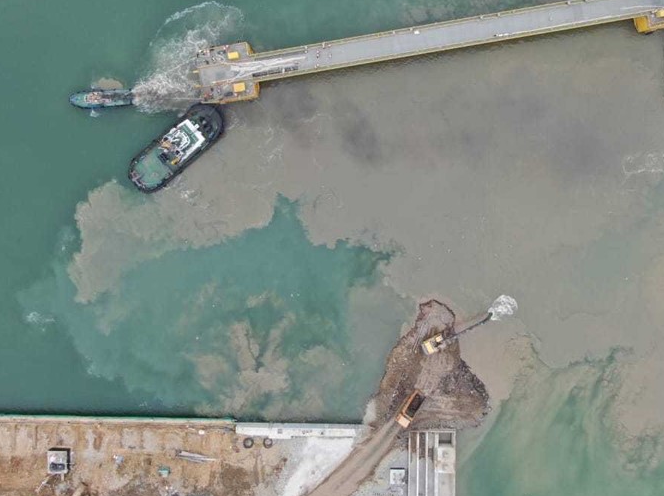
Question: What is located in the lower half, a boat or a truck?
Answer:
truck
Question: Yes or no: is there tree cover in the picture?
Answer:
No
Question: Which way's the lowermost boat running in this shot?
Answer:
at an angle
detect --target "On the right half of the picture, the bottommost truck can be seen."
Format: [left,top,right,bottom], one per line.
[396,390,429,430]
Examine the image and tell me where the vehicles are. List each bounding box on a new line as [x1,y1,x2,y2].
[396,390,429,430]
[418,308,499,358]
